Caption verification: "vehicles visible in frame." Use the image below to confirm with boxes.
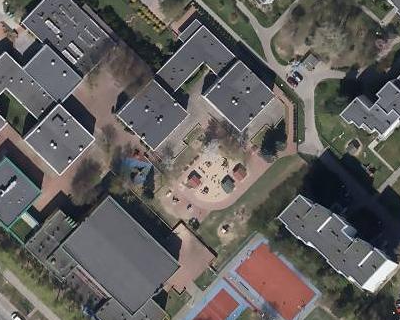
[11,313,23,320]
[294,71,303,81]
[288,75,299,86]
